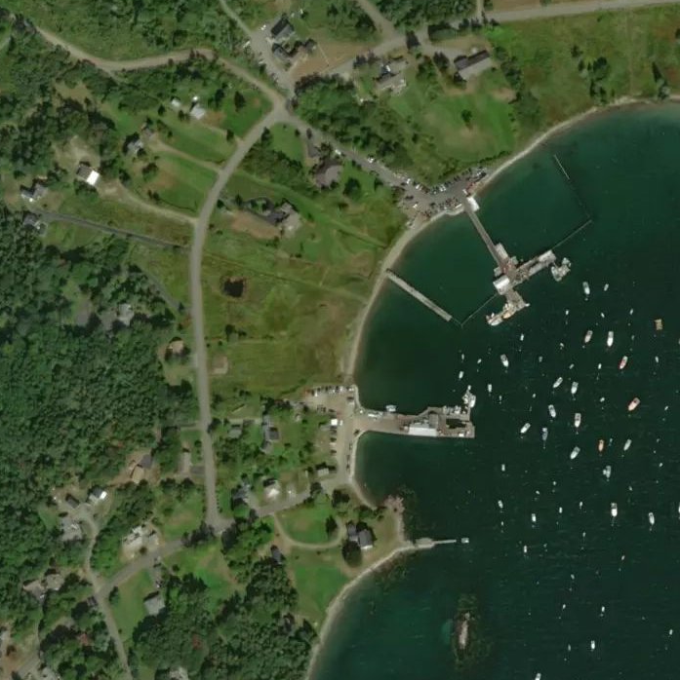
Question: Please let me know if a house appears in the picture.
Yes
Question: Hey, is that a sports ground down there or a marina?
marina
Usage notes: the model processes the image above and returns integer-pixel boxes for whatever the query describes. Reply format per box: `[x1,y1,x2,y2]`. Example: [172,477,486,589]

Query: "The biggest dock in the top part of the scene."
[465,201,557,310]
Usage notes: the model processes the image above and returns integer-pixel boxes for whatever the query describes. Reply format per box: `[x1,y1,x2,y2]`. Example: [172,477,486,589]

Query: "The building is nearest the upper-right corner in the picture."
[454,50,493,78]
